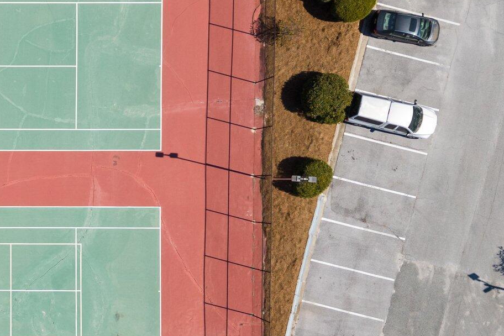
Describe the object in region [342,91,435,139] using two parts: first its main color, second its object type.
white truck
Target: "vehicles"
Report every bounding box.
[342,91,435,139]
[368,8,440,48]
